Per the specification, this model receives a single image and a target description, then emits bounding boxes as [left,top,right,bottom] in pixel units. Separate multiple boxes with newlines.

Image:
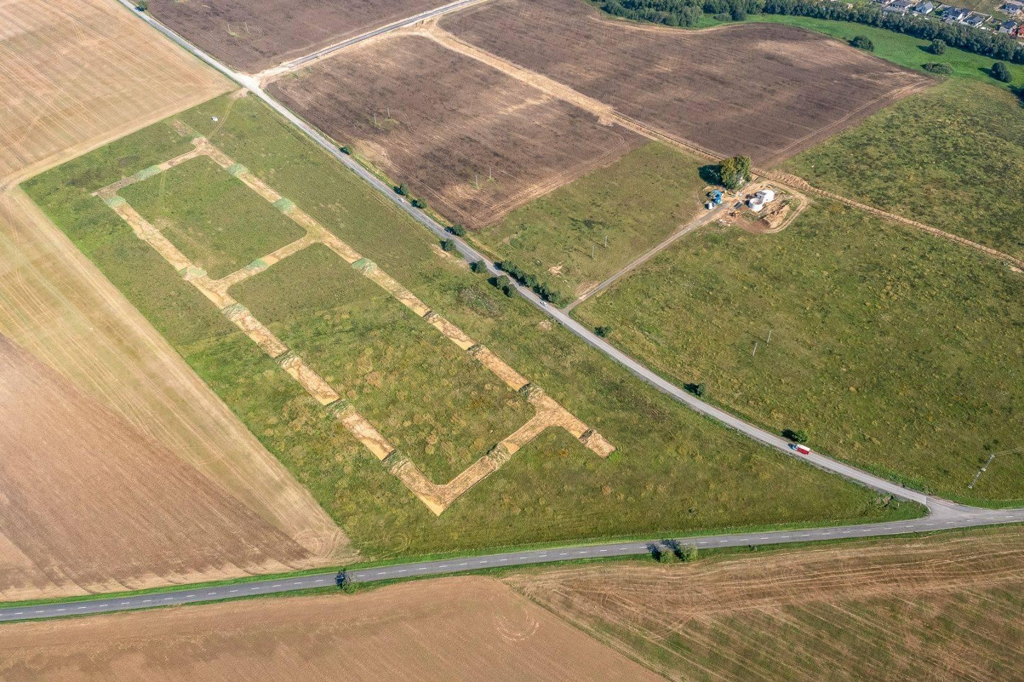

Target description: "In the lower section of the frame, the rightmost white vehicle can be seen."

[792,442,810,454]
